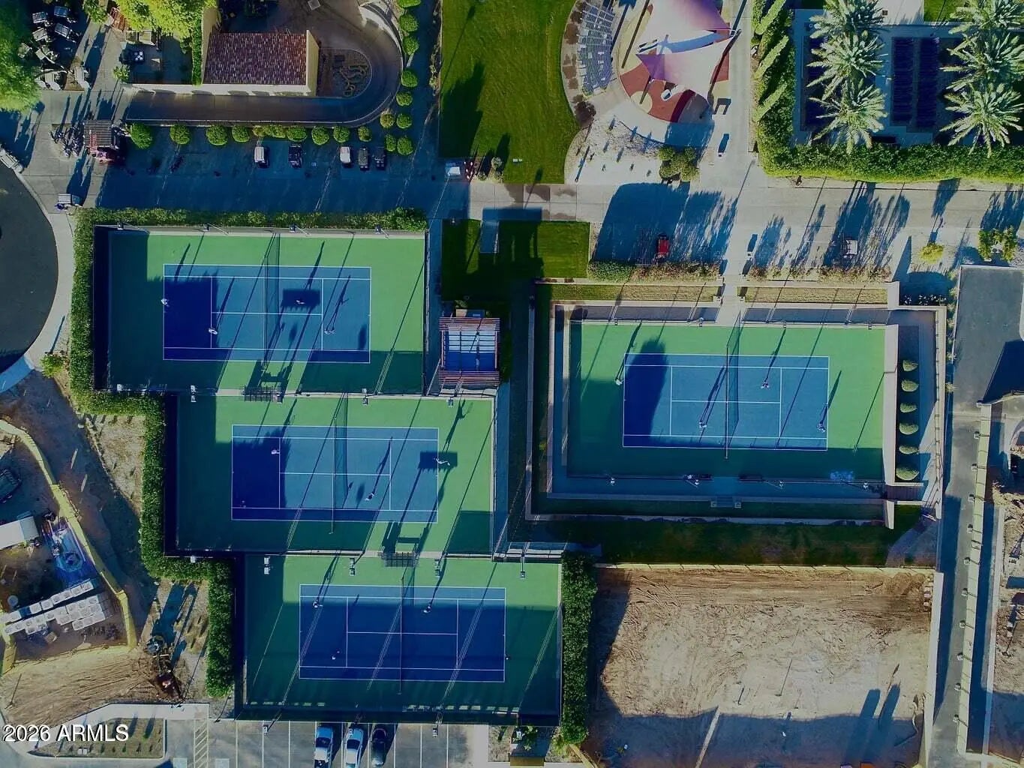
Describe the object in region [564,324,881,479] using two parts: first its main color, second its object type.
blue tennis court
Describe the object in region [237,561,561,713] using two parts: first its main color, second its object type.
blue tennis court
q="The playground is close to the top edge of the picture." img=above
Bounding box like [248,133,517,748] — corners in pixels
[617,0,739,123]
